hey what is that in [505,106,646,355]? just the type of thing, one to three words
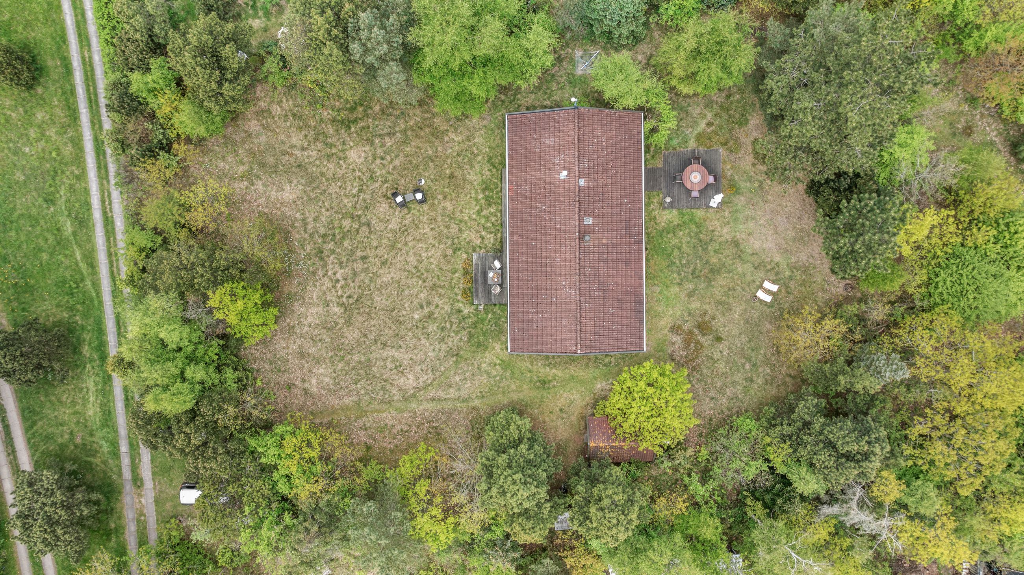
house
